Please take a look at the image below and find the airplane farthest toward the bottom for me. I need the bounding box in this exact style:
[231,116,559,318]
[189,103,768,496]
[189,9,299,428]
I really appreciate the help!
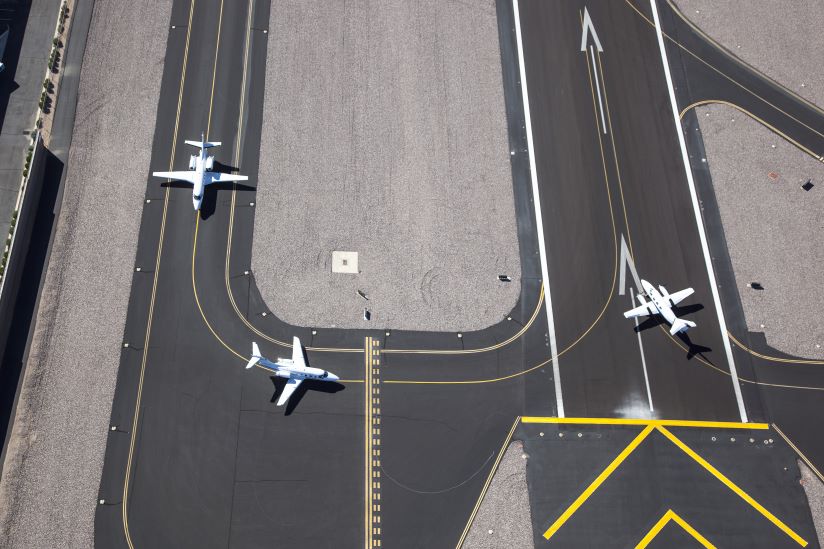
[246,337,341,406]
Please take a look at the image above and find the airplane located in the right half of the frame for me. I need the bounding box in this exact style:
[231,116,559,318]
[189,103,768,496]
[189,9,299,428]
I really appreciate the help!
[623,280,698,335]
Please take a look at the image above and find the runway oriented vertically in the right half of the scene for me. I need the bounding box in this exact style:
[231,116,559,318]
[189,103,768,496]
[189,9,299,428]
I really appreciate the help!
[508,0,768,428]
